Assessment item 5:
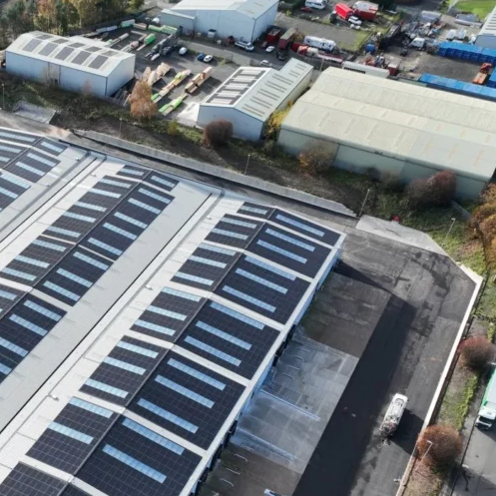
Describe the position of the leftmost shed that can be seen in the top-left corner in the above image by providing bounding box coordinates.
[4,31,134,99]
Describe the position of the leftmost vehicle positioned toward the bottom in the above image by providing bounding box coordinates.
[379,396,404,436]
